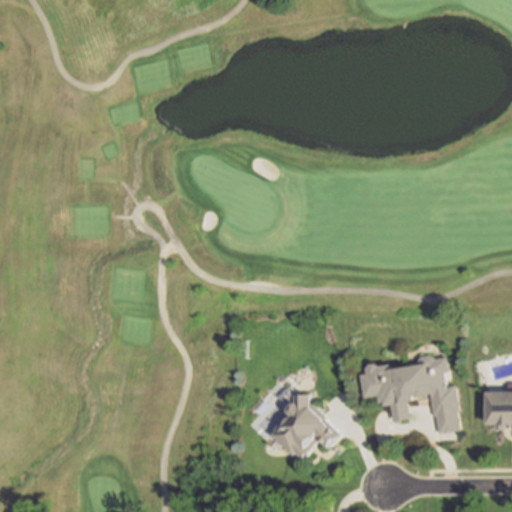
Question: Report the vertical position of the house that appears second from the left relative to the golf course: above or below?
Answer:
below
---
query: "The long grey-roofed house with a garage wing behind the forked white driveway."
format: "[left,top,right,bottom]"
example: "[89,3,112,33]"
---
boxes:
[359,354,462,434]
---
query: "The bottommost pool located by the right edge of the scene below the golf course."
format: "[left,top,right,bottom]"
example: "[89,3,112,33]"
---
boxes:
[476,354,512,389]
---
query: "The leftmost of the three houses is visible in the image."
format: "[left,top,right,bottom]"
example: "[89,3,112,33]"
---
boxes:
[267,392,345,462]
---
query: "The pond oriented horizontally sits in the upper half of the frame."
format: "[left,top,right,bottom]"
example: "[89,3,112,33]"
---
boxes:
[156,16,512,159]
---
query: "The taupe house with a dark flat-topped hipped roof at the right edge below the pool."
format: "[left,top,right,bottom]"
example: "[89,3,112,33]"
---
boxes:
[483,391,512,432]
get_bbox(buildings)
[483,391,512,432]
[267,392,345,462]
[359,354,462,434]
